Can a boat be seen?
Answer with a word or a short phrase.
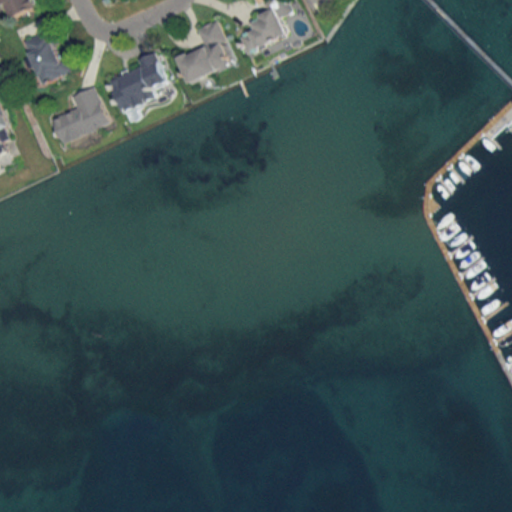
Yes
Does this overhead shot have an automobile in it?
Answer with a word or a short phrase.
No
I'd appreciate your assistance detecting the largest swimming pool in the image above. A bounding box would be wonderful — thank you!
[294,19,309,37]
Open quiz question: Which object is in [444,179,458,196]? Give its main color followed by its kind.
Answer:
white boat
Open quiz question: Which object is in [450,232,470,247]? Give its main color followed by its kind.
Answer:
white boat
